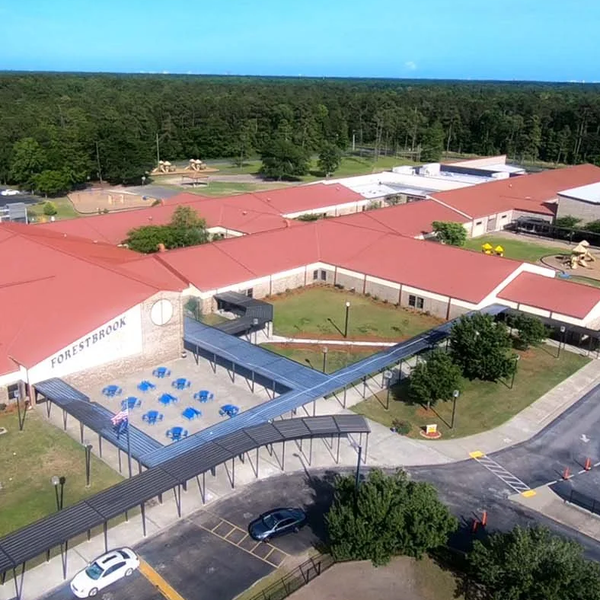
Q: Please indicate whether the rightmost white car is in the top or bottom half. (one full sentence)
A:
The rightmost white car is in the bottom half of the image.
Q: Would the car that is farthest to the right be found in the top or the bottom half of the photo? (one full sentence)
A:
The car that is farthest to the right sits in the bottom half of the picture.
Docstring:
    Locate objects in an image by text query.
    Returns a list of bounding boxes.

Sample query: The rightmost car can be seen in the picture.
[244,504,308,540]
